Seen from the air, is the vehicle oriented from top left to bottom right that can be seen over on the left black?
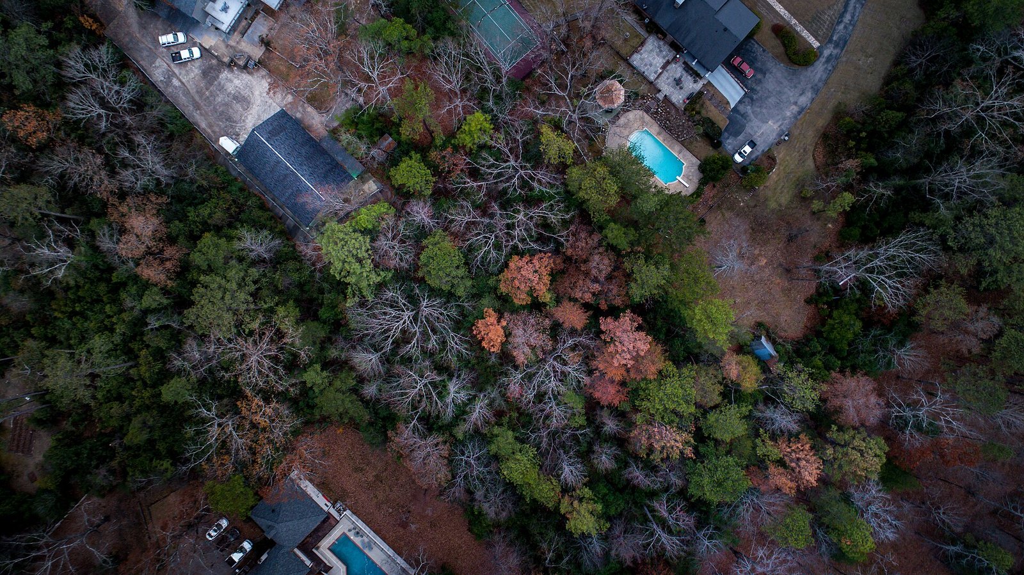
No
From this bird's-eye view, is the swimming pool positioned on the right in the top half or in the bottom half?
top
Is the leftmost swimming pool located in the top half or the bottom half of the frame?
bottom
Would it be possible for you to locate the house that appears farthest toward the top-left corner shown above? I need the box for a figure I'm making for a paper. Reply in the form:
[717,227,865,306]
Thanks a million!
[164,0,259,38]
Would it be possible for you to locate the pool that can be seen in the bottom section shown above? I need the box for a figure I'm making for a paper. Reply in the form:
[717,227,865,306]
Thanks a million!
[312,514,418,575]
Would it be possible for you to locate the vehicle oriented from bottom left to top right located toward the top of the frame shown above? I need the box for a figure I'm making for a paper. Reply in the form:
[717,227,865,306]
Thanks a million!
[732,138,758,165]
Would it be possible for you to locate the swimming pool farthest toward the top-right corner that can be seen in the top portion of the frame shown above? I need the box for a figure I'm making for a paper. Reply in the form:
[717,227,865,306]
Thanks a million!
[607,110,704,193]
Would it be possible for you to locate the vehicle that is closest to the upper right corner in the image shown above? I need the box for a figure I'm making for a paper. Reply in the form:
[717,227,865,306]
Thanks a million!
[729,55,754,78]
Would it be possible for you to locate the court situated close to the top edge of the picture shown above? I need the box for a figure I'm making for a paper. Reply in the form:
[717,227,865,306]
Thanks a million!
[457,0,539,65]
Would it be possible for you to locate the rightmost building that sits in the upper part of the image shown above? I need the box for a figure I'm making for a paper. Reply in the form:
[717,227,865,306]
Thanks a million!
[628,0,760,78]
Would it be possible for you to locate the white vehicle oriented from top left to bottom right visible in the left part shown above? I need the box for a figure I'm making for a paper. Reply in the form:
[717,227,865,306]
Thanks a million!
[216,135,241,157]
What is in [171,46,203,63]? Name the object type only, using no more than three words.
vehicle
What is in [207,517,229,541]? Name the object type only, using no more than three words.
car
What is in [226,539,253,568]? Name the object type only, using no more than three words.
truck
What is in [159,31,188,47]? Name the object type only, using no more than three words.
car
